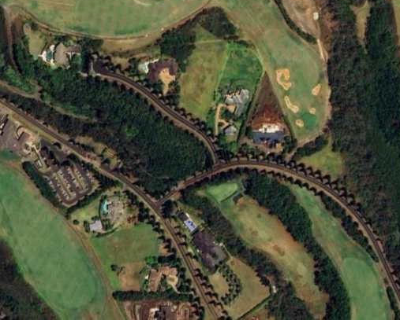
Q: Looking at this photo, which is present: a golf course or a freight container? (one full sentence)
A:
Of the two, only a golf course appears.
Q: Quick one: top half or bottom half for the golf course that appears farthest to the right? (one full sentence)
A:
Seen from above, the golf course that appears farthest to the right lies in the bottom half of the view.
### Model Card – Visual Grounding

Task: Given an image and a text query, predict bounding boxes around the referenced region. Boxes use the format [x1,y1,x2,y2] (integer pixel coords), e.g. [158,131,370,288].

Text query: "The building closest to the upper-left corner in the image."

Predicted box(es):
[50,43,81,68]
